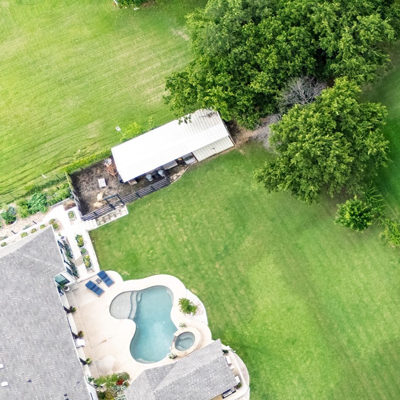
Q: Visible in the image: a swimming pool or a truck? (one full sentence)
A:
The image shows a swimming pool.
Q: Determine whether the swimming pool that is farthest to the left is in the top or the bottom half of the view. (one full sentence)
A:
The swimming pool that is farthest to the left sits in the bottom half of the picture.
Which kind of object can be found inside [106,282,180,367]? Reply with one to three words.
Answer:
swimming pool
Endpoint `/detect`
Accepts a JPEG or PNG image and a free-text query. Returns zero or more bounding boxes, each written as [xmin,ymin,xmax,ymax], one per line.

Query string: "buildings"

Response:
[0,224,97,400]
[125,339,240,400]
[112,110,231,193]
